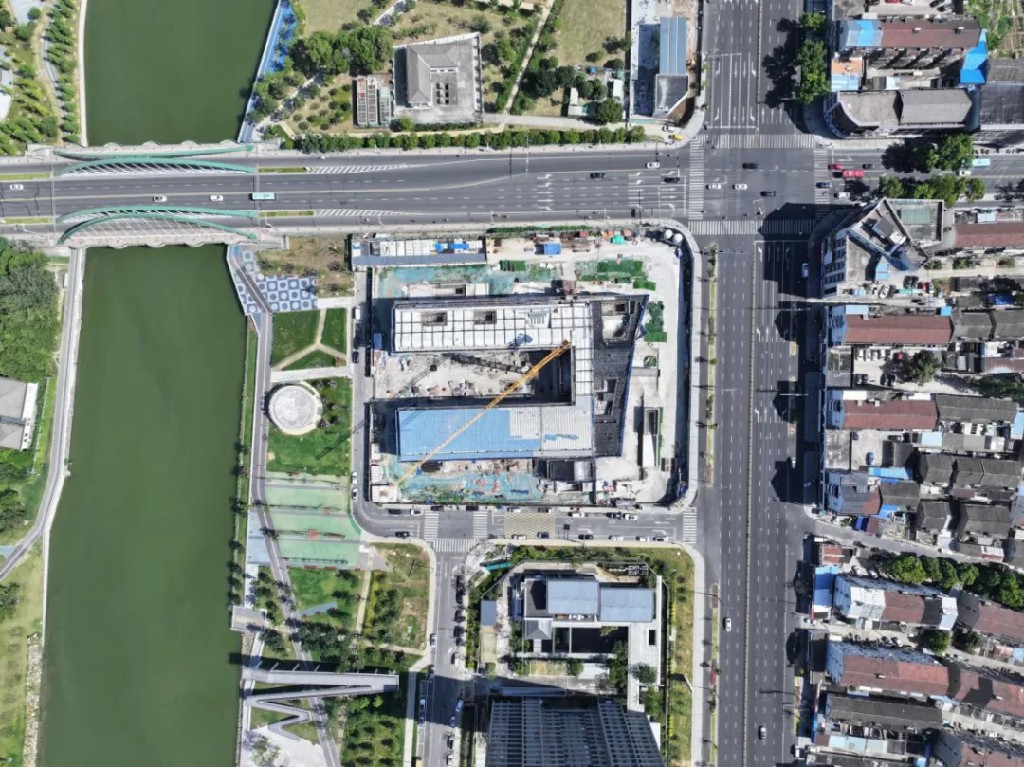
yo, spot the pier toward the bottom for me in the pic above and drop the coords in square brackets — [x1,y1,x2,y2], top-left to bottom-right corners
[228,606,267,633]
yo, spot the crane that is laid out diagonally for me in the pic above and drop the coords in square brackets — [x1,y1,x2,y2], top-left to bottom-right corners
[394,341,572,486]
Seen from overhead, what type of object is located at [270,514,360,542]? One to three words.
sports court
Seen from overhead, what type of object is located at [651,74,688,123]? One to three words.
building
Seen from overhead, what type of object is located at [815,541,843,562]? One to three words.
shed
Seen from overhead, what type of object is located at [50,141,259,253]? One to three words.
bridge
